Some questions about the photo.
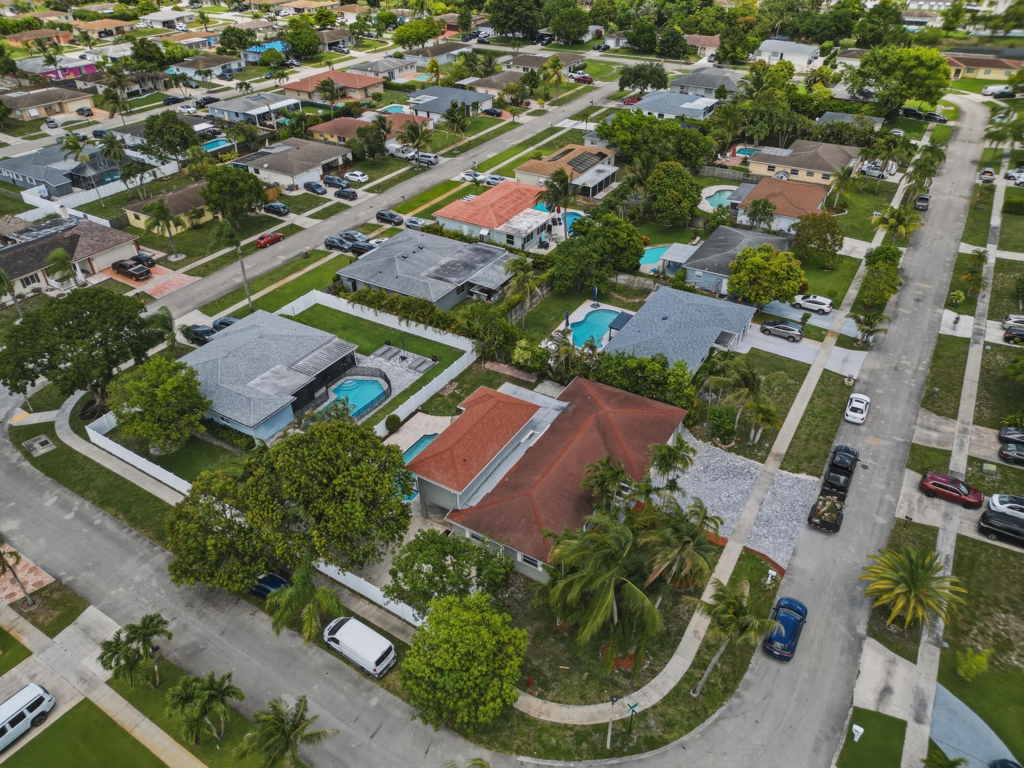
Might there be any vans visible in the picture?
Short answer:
Yes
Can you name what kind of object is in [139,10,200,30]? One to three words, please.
house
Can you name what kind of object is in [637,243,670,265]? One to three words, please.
swimming pool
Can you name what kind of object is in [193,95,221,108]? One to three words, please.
vehicle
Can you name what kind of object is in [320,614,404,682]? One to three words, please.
van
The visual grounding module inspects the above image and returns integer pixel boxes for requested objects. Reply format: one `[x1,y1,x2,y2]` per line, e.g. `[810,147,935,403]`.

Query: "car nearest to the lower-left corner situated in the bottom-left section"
[0,672,68,761]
